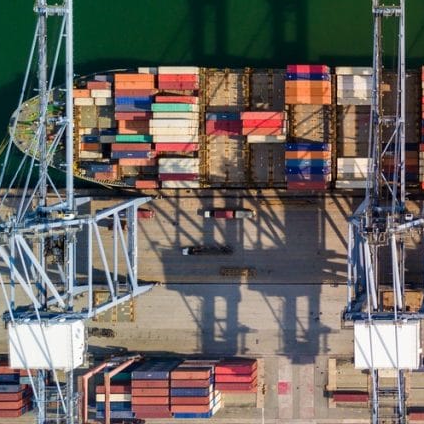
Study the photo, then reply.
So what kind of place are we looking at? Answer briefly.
port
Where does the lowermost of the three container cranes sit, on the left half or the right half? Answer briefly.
left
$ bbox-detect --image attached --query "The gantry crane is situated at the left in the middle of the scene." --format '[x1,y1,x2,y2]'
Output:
[0,0,167,424]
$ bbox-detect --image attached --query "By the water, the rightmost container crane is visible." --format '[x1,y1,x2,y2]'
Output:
[345,0,424,424]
